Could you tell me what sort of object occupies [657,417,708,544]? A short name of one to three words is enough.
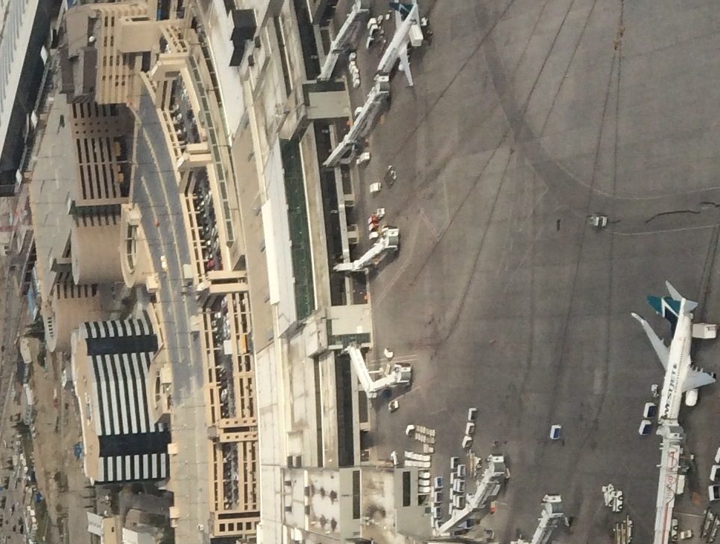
jet bridge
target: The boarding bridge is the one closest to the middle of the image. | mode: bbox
[336,229,406,275]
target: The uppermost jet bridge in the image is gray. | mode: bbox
[322,0,377,84]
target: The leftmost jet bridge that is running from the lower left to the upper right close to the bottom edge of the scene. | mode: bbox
[434,454,518,539]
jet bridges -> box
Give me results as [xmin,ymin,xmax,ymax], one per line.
[336,229,406,275]
[347,342,421,393]
[657,417,708,544]
[327,71,399,168]
[534,490,577,544]
[322,0,377,84]
[434,454,518,539]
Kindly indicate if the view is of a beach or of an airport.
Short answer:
airport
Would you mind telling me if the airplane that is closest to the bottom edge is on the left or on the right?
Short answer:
right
